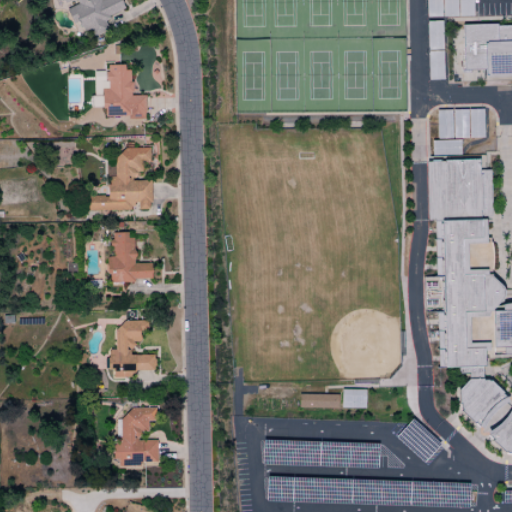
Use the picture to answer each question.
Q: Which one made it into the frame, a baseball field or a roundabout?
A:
baseball field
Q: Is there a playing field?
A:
Yes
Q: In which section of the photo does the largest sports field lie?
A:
center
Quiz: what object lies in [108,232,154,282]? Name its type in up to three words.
house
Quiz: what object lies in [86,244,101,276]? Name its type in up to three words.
swimming pool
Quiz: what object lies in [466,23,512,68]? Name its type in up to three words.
building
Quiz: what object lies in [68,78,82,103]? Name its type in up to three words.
swimming pool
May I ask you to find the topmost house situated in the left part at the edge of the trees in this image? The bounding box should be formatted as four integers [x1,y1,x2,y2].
[68,0,129,36]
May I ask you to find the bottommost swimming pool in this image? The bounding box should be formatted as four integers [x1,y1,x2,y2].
[88,330,104,355]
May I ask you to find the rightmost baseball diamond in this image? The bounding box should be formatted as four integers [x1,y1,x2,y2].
[330,308,402,380]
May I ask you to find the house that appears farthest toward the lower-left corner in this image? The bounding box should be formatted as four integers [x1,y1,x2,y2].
[114,408,159,466]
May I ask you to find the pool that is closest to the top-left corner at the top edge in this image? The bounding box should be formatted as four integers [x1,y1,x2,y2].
[55,10,74,28]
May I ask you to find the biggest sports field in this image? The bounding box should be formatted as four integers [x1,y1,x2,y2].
[218,128,402,382]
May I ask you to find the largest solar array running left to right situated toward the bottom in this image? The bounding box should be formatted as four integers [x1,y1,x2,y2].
[268,477,472,508]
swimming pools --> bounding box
[68,78,82,103]
[55,10,74,28]
[86,244,101,276]
[88,330,104,355]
